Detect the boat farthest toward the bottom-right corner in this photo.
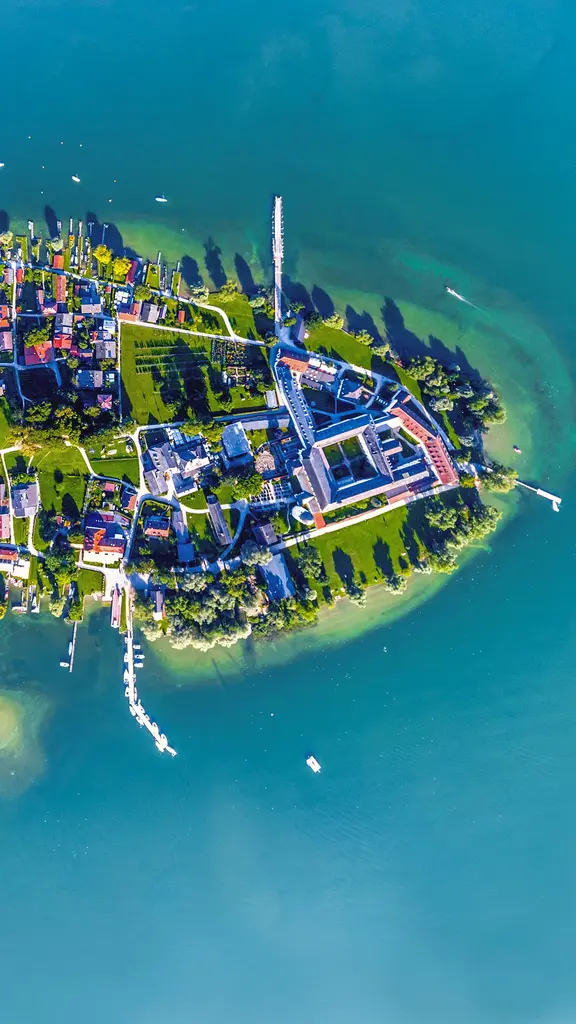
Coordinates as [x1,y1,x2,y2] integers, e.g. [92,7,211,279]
[308,756,322,774]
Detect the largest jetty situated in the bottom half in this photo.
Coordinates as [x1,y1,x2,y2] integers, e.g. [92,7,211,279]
[125,628,165,747]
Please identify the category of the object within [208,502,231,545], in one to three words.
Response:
barn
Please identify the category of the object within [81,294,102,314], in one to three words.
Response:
house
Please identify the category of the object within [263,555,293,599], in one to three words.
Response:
building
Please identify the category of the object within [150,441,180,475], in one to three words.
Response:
building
